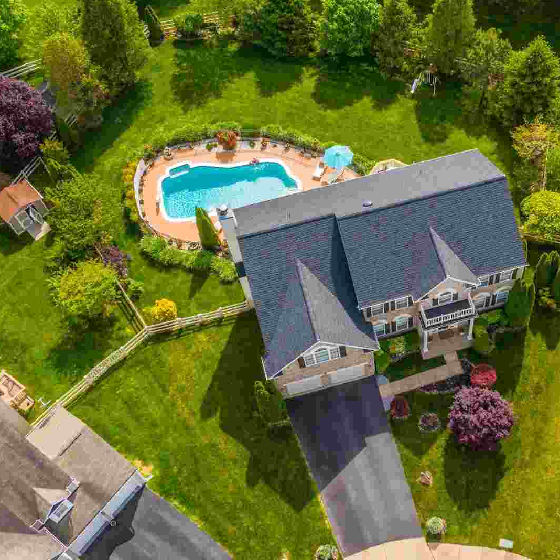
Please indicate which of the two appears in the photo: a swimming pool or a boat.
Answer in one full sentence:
Visible in the photo is a swimming pool.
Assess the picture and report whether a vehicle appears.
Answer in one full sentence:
No, I find no vehicle anywhere in the image.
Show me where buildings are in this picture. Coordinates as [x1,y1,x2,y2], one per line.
[218,146,532,397]
[0,395,145,560]
[0,180,45,238]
